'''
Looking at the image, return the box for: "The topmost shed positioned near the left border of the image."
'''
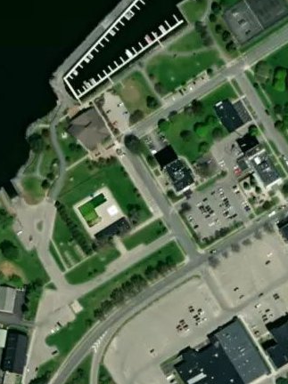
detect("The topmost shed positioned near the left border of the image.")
[0,287,17,314]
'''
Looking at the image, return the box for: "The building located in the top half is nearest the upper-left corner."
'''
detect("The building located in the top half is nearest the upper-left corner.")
[69,107,114,152]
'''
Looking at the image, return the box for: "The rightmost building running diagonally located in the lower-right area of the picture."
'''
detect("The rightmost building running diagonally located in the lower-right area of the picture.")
[216,320,272,384]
